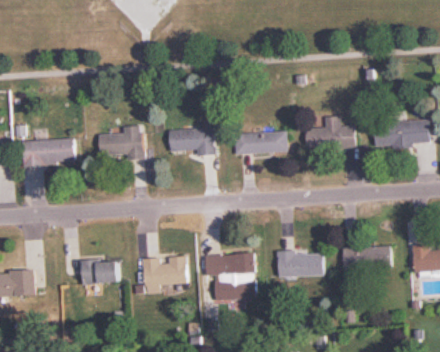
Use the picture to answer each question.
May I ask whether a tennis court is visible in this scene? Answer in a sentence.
No, the picture doesn't show any tennis court.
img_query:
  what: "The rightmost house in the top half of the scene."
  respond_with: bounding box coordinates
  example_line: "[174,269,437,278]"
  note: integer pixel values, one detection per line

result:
[374,119,433,150]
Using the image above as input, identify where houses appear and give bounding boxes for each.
[169,128,217,156]
[204,254,258,302]
[142,256,189,294]
[237,130,290,155]
[305,116,358,149]
[276,252,324,276]
[374,119,433,150]
[97,124,148,160]
[412,244,440,272]
[22,140,76,170]
[79,260,120,284]
[342,246,392,270]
